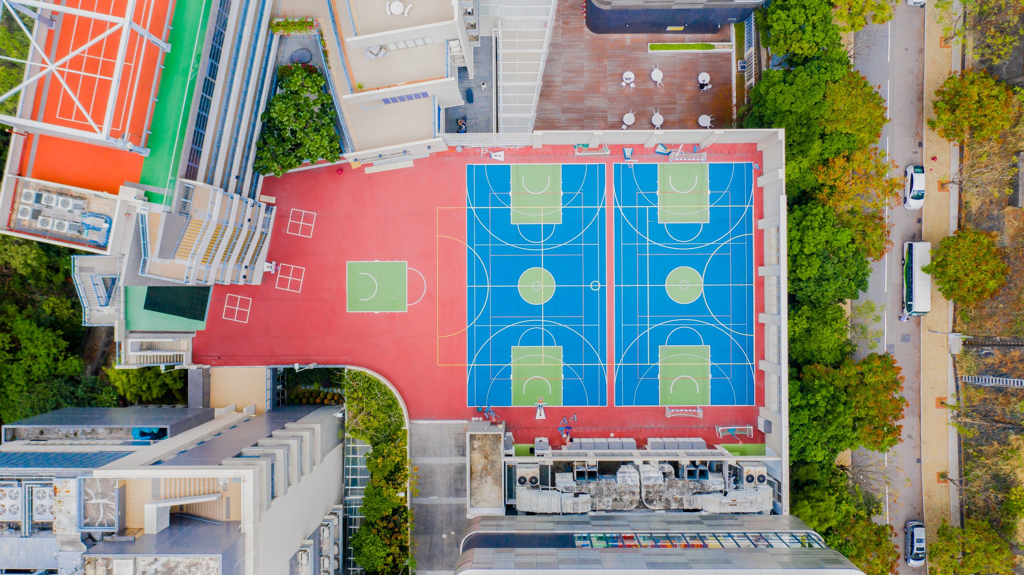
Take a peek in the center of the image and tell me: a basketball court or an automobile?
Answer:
basketball court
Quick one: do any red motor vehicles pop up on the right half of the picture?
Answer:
No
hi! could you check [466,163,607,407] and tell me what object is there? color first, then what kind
blue basketball court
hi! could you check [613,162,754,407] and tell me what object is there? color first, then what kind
blue basketball court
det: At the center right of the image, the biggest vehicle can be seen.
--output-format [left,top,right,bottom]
[902,241,935,315]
